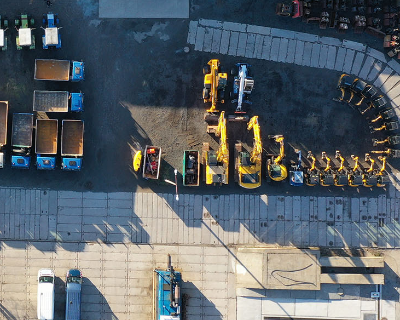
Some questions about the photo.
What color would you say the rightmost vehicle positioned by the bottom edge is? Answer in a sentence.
The color of the rightmost vehicle positioned by the bottom edge is blue.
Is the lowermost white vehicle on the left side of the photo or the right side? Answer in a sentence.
The lowermost white vehicle is on the left side of the image.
